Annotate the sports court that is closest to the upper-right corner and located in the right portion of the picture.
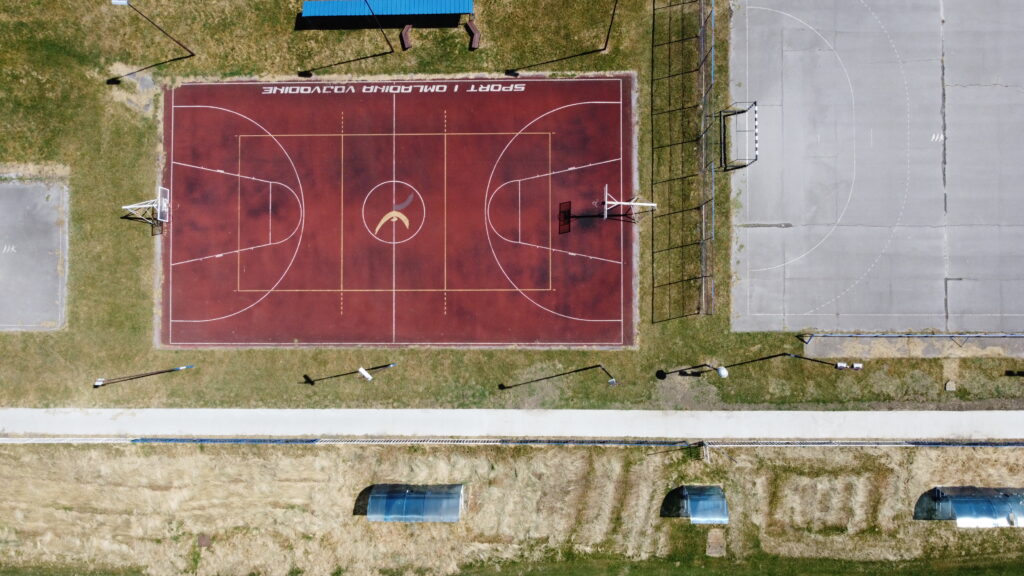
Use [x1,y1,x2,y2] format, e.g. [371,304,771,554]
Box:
[731,0,1024,332]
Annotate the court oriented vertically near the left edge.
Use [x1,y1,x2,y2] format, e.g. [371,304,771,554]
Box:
[0,175,69,331]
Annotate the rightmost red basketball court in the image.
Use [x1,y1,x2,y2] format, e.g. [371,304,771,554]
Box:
[155,77,637,349]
